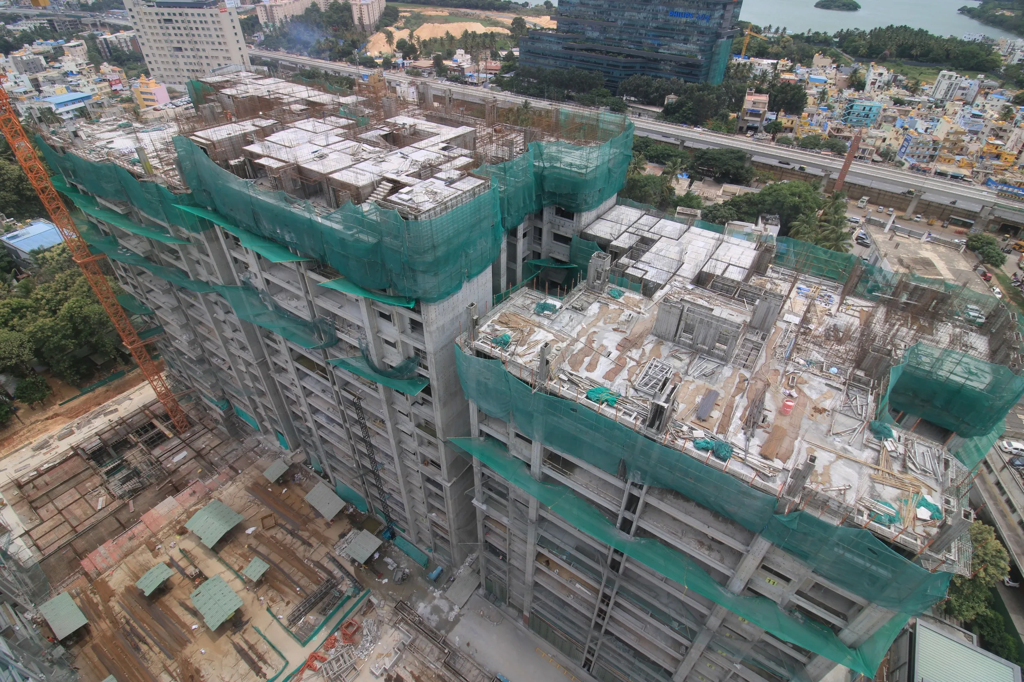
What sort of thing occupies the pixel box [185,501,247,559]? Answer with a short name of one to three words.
shed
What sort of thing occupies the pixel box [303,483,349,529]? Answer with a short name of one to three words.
shed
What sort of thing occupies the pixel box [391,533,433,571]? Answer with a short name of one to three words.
shipping container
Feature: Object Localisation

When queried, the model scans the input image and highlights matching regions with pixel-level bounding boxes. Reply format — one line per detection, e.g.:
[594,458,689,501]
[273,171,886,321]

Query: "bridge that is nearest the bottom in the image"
[256,45,1024,237]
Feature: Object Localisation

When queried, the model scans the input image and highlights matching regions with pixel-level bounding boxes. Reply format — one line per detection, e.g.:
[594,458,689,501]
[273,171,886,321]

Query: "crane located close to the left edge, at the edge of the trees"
[0,84,215,438]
